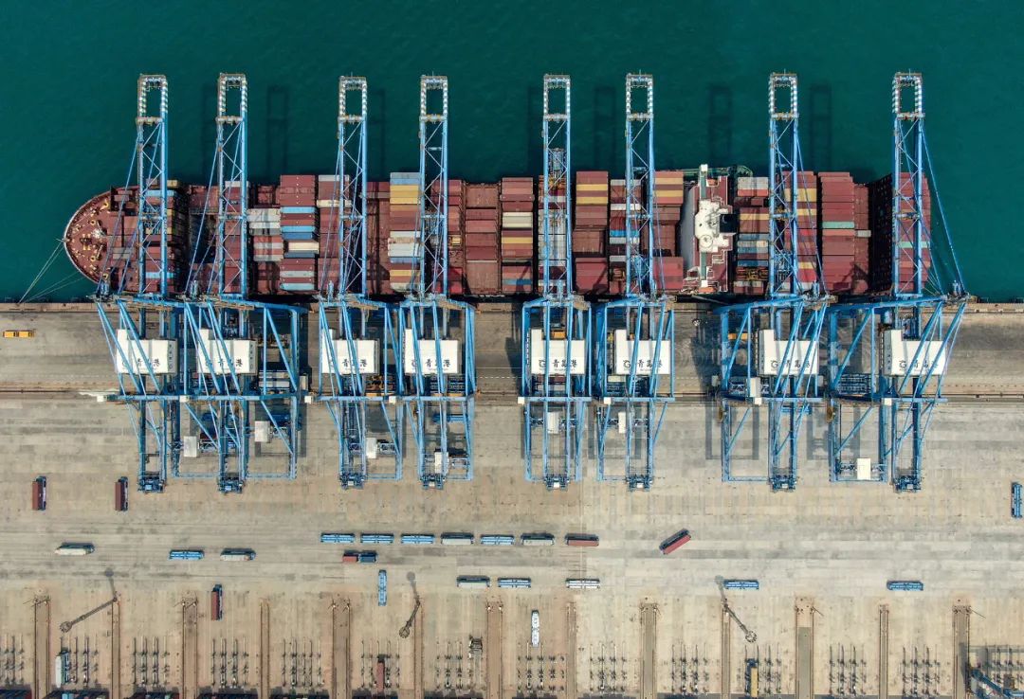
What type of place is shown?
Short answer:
port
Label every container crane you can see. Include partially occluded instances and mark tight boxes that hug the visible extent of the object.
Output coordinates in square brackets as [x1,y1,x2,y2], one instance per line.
[83,67,240,489]
[174,70,323,489]
[310,68,416,489]
[800,69,979,489]
[697,69,839,489]
[508,70,595,489]
[394,67,490,489]
[587,69,676,489]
